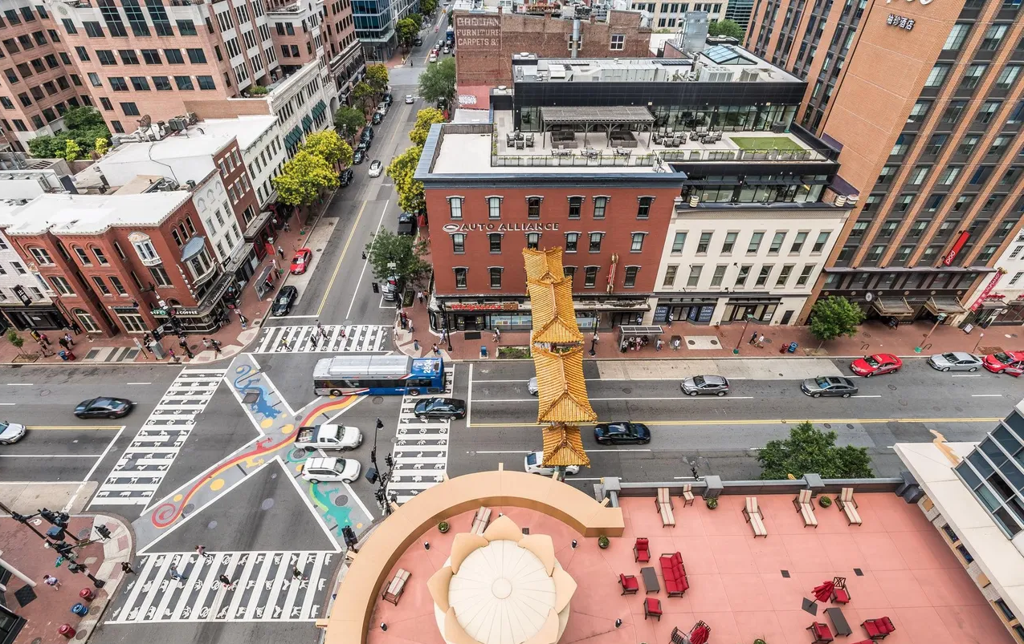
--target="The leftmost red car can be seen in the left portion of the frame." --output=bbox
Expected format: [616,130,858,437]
[289,248,313,272]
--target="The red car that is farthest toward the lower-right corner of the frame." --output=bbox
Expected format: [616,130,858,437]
[982,350,1024,371]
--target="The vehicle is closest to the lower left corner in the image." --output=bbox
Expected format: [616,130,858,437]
[0,419,31,446]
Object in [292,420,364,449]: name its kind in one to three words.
truck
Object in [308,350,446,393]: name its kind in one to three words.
bus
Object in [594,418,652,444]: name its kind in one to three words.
car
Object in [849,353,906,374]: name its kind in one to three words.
car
